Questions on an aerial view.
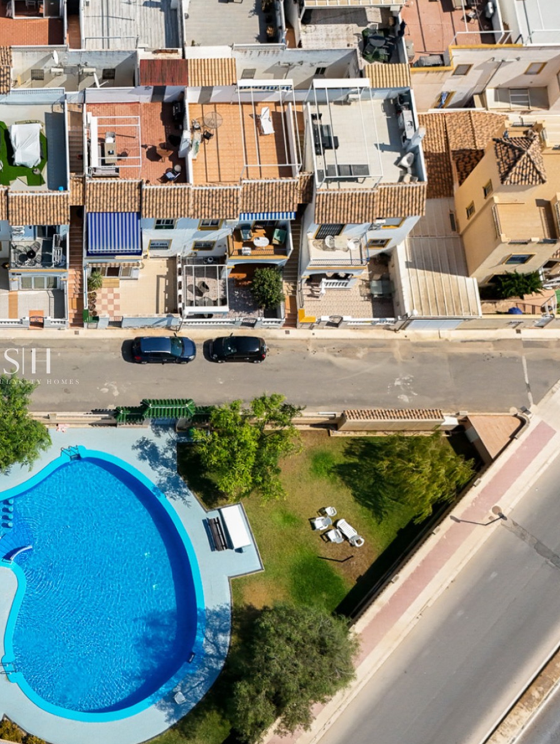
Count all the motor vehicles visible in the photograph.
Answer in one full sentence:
My tally gives 2 motor vehicles in this view.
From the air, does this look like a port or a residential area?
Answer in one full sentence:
This looks like a residential area.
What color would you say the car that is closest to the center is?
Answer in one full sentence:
The color of the car that is closest to the center is black.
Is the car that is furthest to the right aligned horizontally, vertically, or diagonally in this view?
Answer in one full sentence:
I'd say the car that is furthest to the right is aligned horizontally in the picture.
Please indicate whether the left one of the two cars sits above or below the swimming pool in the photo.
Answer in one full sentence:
The left one of the two cars is found above the swimming pool in the photo.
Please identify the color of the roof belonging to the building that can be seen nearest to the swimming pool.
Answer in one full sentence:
From above, the roof of the building that can be seen nearest to the swimming pool looks green.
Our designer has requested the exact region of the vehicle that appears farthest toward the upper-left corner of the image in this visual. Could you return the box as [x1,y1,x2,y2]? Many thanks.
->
[131,334,197,367]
